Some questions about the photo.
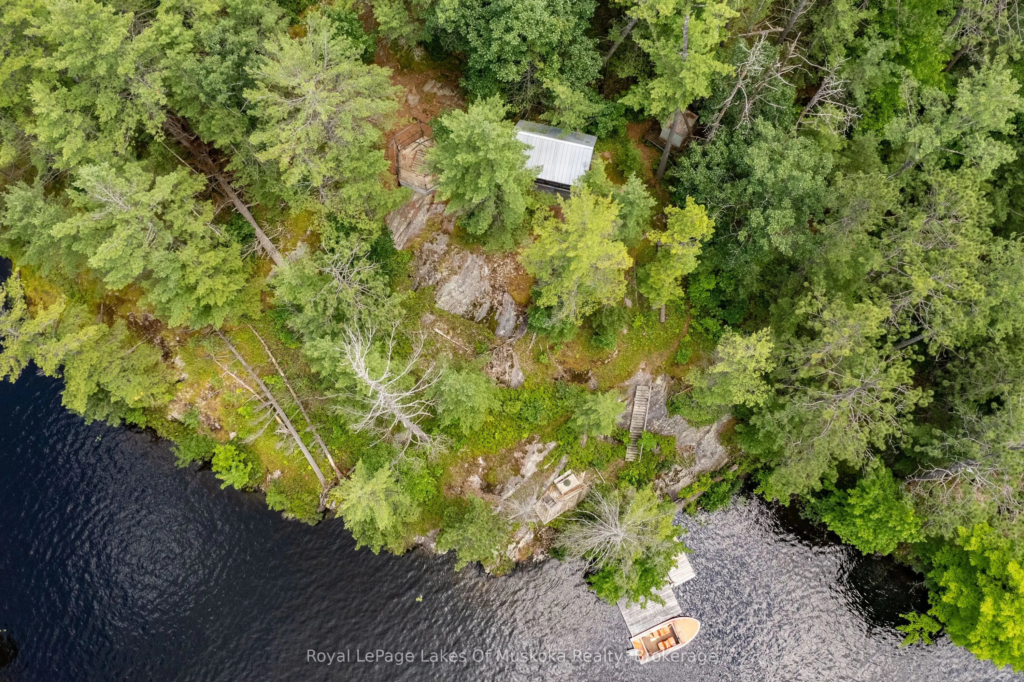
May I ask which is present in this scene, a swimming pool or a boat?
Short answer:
boat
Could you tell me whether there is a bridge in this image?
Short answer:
No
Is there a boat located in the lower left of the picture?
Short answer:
No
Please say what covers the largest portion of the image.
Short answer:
trees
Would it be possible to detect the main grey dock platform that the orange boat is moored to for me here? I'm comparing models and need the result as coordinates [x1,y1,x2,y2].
[621,583,682,636]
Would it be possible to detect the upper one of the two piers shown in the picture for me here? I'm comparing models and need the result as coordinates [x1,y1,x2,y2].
[665,545,696,587]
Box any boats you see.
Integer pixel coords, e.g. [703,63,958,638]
[628,614,702,666]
